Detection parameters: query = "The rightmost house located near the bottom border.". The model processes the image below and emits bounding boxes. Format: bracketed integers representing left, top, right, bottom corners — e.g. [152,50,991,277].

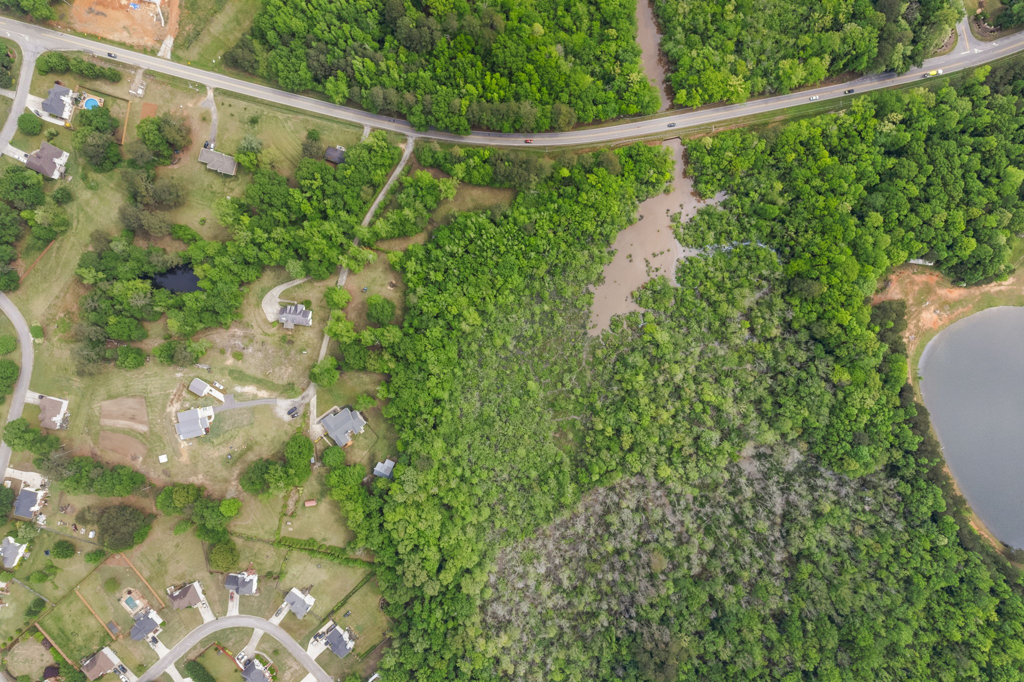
[324,623,356,660]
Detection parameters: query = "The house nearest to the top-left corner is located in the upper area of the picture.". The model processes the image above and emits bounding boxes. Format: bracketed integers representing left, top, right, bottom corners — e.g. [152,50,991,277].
[39,83,82,120]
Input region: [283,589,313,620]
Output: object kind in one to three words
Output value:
house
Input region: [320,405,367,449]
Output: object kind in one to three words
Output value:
house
